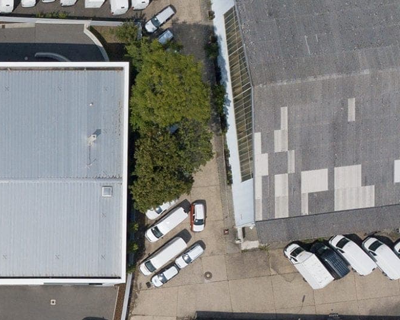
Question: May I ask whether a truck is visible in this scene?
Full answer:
Yes, the frame does contain a truck.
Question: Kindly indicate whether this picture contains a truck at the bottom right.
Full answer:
Yes, a truck is visible at the bottom right.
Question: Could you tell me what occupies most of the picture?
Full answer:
The largest share of the image is taken up by buildings.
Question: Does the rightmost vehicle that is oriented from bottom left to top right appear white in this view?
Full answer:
Yes, the rightmost vehicle that is oriented from bottom left to top right appears white.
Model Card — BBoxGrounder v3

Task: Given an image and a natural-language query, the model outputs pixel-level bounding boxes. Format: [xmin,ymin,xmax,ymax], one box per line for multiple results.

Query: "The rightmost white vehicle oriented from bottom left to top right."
[173,241,208,269]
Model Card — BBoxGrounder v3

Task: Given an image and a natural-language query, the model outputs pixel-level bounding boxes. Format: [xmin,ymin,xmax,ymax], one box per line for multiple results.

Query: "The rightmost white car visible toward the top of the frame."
[143,3,177,33]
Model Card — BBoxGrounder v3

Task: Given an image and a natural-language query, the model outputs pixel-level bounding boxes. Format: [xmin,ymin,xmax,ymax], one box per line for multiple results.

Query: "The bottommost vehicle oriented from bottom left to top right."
[148,261,182,290]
